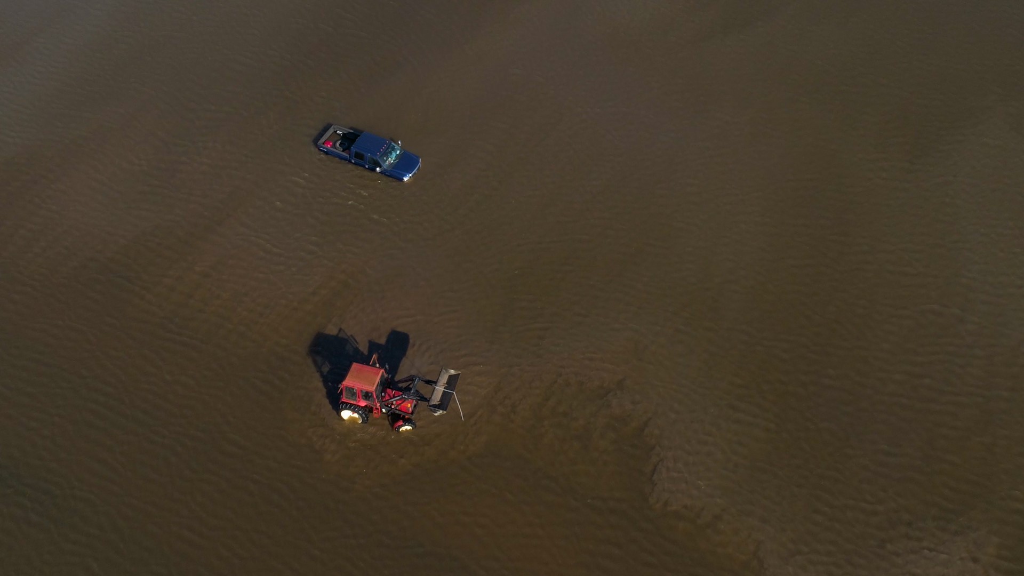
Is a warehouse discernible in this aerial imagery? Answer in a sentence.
No, there's no warehouse here.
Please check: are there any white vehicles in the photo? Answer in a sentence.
No, there's no white vehicle here.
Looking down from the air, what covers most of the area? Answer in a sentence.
The scene is dominated by water.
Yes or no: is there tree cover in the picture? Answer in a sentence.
No, tree cover can't be seen anywhere here.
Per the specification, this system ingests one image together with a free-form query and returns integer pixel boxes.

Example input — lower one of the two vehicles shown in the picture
[334,354,460,431]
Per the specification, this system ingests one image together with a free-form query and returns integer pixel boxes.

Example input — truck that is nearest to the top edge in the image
[317,124,424,181]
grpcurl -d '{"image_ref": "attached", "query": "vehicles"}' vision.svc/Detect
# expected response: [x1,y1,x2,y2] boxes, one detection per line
[334,354,460,431]
[317,124,424,181]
